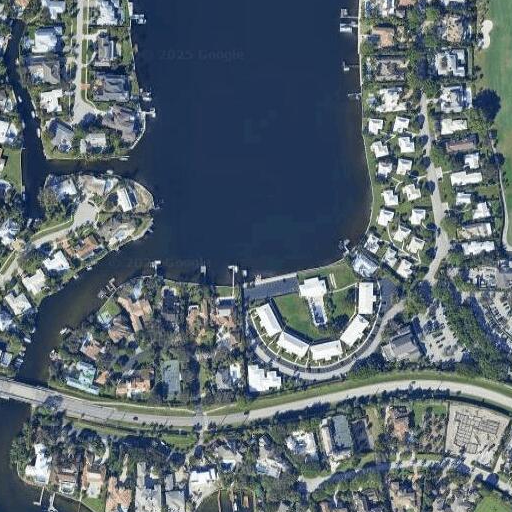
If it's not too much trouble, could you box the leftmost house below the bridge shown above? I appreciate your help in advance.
[21,442,52,484]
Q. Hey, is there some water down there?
Yes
